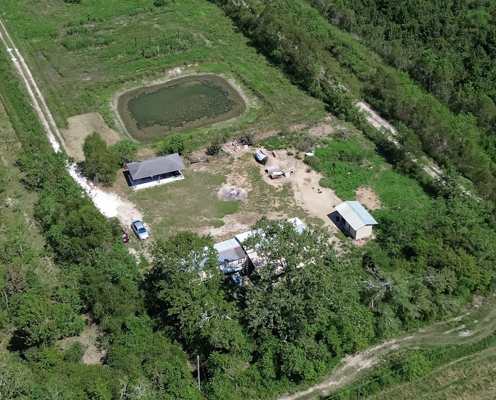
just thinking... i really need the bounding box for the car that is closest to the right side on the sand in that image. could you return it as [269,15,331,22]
[132,218,149,237]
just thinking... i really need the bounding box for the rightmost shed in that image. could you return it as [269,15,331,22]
[337,201,377,239]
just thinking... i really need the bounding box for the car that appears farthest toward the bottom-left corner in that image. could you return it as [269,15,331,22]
[109,224,125,243]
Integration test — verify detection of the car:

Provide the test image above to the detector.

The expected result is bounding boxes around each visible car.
[109,224,125,243]
[132,218,149,237]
